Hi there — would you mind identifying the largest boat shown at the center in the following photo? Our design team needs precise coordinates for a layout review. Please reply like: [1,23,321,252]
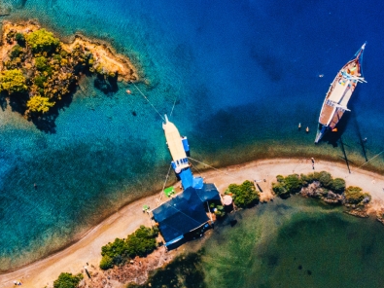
[165,114,195,173]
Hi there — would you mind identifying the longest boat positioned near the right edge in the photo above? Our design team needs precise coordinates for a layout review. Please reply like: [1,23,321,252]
[314,42,375,143]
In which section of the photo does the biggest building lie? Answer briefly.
bottom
